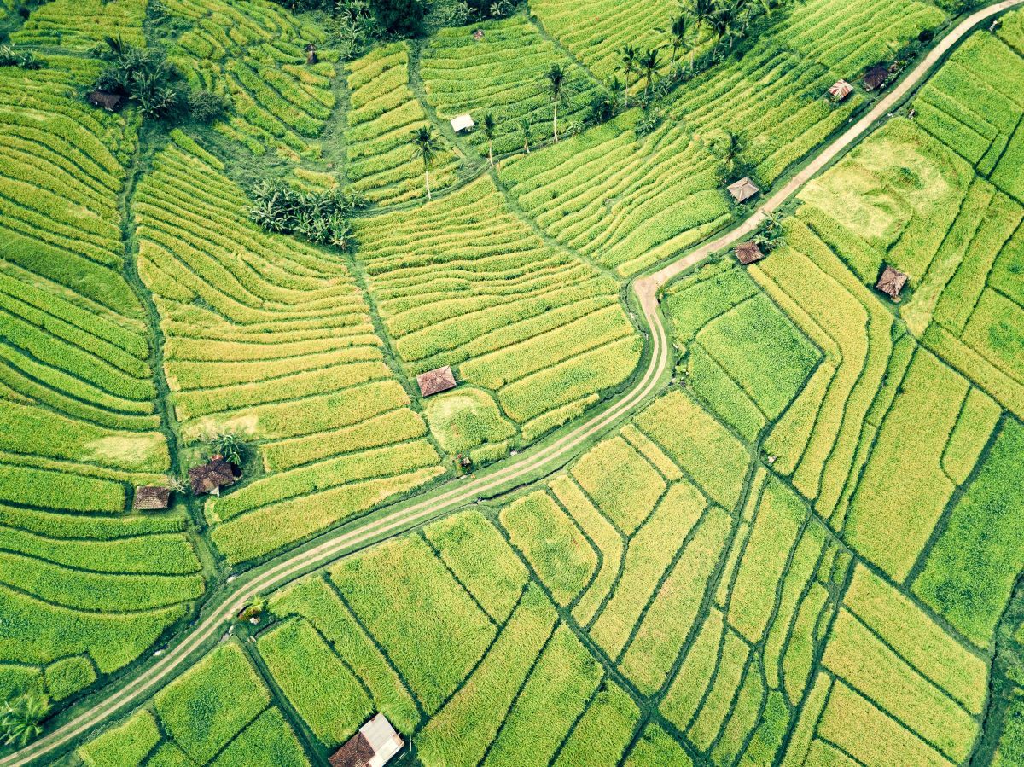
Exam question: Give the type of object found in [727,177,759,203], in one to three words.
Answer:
shed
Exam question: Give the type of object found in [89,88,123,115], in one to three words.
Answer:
shed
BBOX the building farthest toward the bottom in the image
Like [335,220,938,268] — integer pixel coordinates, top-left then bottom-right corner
[327,713,405,767]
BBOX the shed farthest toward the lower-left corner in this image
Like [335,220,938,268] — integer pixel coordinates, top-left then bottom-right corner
[133,487,170,512]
